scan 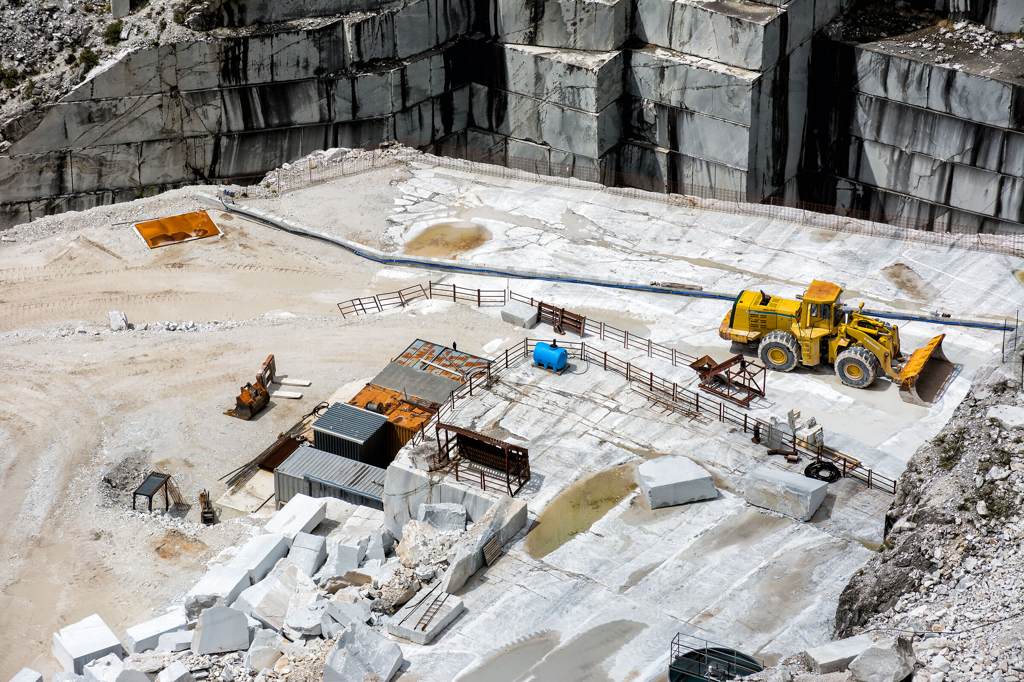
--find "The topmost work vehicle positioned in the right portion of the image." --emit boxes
[721,284,959,411]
